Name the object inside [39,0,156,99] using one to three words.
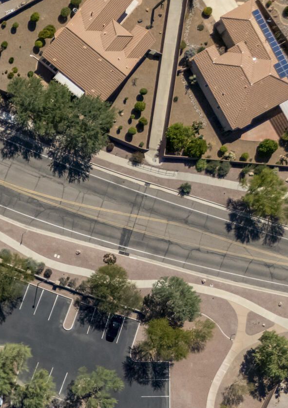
house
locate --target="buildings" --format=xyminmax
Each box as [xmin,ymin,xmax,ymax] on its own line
[186,0,288,139]
[39,0,156,99]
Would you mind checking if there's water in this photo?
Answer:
No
